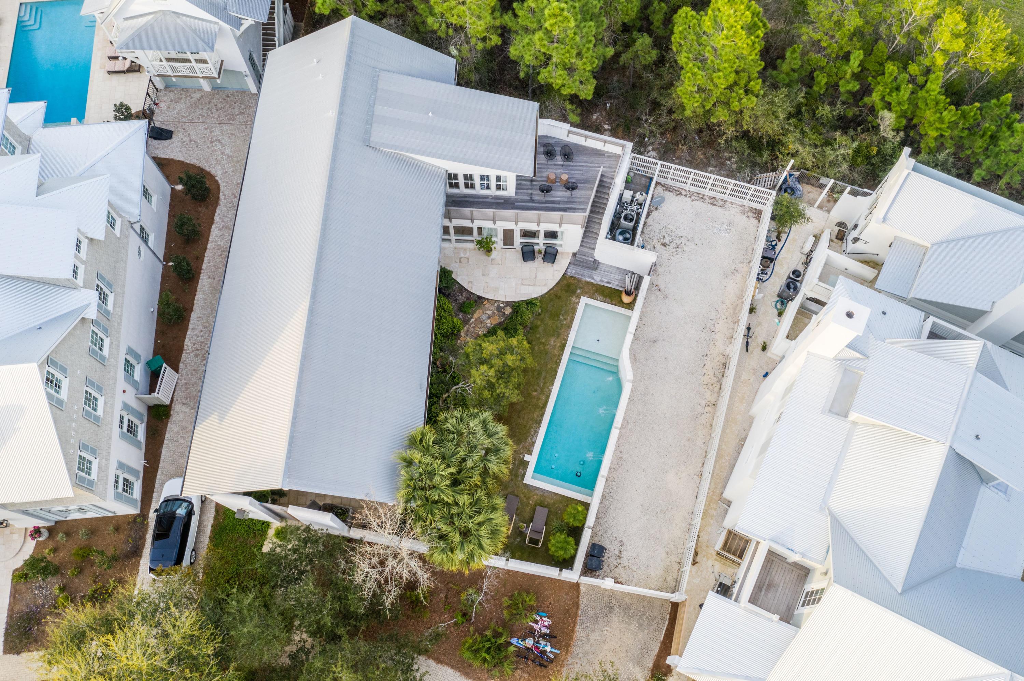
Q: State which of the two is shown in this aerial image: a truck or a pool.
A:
pool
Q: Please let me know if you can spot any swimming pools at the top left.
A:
Yes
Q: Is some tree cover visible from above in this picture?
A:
Yes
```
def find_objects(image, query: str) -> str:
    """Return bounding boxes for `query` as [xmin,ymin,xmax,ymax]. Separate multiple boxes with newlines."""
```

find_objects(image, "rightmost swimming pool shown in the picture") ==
[522,294,633,505]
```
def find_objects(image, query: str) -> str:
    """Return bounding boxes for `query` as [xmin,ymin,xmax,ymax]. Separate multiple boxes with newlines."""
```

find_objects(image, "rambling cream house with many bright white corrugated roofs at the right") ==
[675,153,1024,681]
